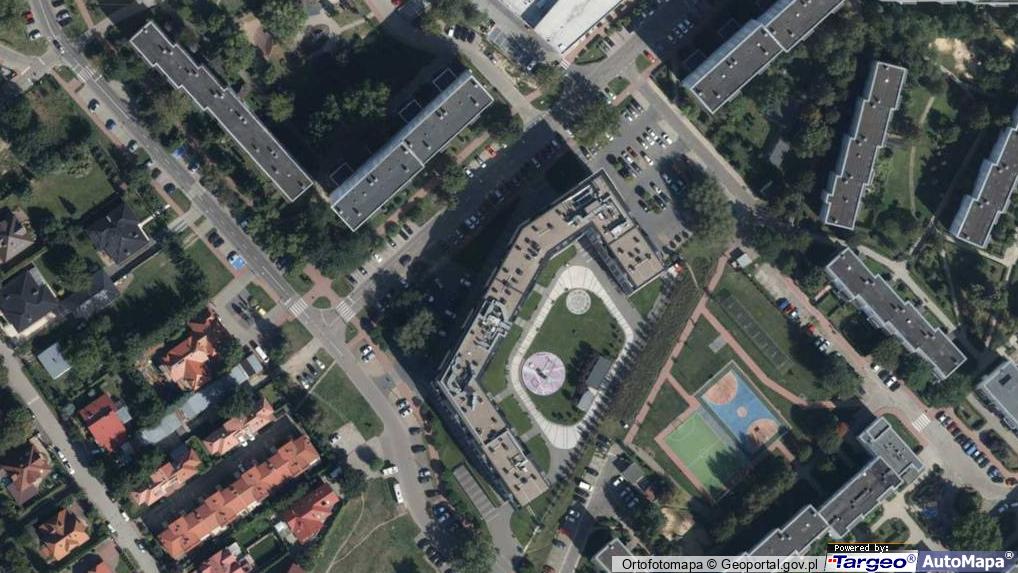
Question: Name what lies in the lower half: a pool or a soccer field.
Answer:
soccer field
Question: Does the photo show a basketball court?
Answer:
Yes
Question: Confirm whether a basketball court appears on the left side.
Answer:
No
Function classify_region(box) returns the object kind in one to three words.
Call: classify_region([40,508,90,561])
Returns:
house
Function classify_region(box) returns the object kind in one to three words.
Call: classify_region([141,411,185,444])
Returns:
shed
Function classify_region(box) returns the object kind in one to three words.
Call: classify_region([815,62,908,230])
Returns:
building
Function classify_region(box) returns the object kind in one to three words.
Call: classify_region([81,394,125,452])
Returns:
house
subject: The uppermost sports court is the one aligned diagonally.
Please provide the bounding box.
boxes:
[720,294,793,370]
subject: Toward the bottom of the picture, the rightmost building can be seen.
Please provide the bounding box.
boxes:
[970,359,1018,436]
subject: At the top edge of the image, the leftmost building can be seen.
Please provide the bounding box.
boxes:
[129,22,312,200]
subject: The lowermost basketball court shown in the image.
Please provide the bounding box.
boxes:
[695,361,786,463]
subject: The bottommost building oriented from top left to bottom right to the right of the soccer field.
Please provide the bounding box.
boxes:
[846,415,925,483]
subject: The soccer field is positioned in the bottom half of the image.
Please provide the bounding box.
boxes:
[654,402,748,502]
